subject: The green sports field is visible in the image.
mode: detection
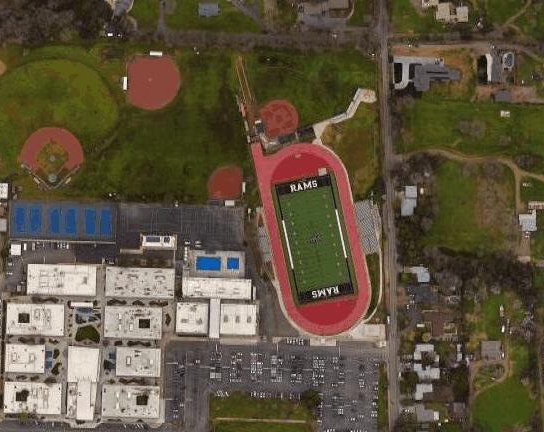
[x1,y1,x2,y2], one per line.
[272,173,358,306]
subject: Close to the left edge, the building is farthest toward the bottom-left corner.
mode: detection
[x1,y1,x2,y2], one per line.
[3,383,62,414]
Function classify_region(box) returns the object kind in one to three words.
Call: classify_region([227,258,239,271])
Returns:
swimming pool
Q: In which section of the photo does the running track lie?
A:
center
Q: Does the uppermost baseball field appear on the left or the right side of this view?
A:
left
